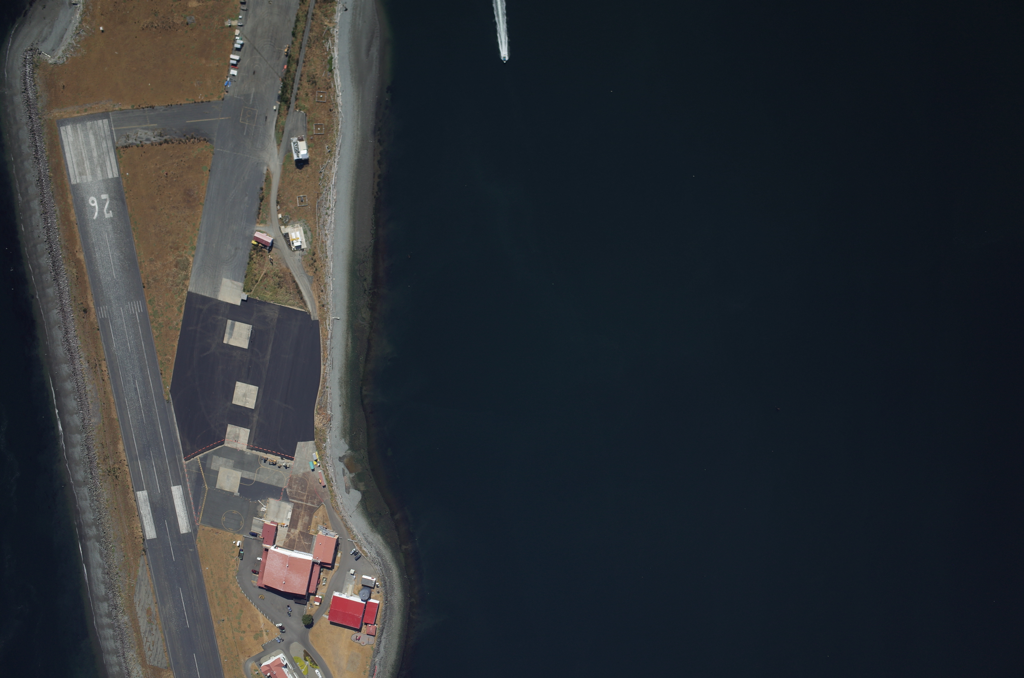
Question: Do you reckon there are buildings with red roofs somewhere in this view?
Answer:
Yes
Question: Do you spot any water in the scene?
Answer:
Yes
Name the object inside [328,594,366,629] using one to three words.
building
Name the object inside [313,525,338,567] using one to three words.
building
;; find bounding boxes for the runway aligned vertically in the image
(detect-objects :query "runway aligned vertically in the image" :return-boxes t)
[57,112,224,678]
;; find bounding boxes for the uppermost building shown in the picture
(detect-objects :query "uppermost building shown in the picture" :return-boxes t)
[290,135,309,161]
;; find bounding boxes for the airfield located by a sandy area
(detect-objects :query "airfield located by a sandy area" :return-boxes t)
[57,0,330,678]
